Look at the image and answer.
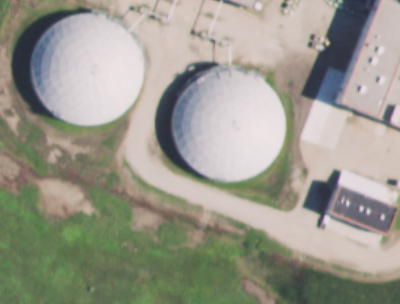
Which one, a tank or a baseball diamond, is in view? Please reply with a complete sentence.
Visible in the photo is a tank.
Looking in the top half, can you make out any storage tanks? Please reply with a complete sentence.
Yes, in the top half there is a storage tank.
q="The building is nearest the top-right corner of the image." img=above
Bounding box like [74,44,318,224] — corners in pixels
[334,0,400,131]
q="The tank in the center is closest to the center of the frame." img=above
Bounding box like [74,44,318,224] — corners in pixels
[171,64,284,182]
